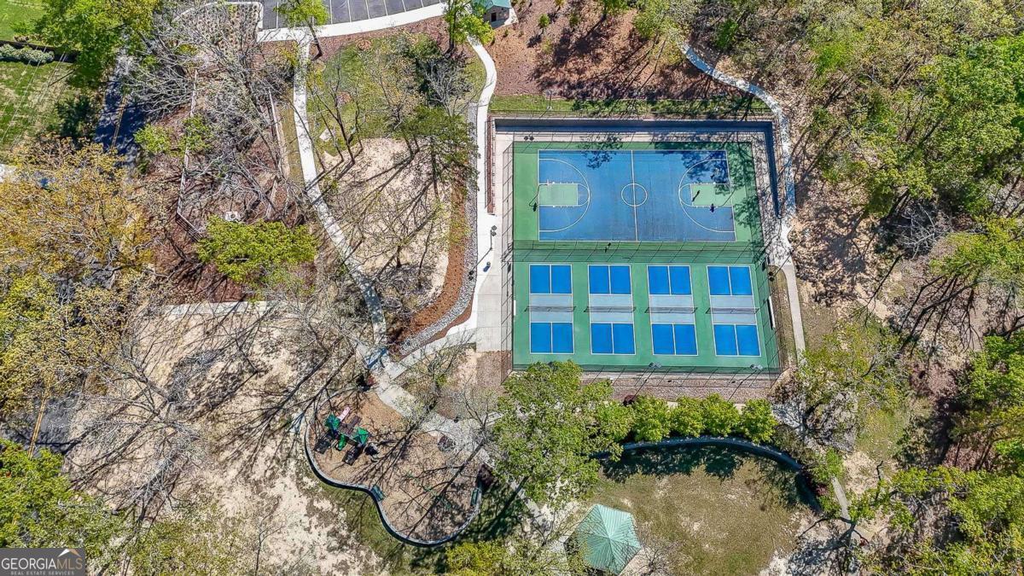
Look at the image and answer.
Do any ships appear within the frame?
No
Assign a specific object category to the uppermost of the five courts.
basketball court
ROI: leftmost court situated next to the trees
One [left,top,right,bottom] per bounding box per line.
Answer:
[512,249,583,371]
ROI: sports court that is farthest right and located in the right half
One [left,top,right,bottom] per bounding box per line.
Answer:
[697,250,782,372]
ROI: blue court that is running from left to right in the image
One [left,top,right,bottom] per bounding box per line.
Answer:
[513,141,766,250]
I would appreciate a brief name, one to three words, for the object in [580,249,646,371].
sports court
